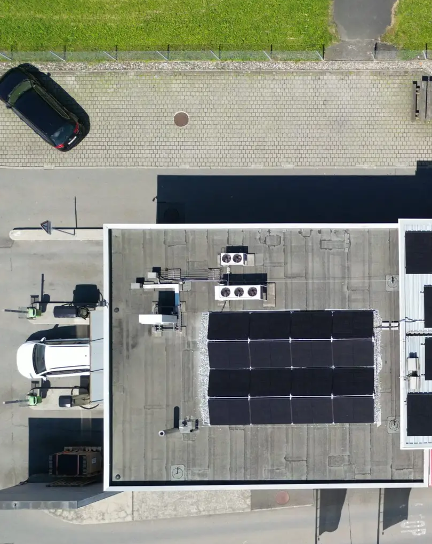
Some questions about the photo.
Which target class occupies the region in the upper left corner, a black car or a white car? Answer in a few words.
black car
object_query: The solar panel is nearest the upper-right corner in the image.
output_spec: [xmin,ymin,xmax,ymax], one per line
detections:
[402,231,432,273]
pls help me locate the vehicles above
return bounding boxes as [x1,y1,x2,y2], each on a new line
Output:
[16,335,104,386]
[0,63,89,155]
